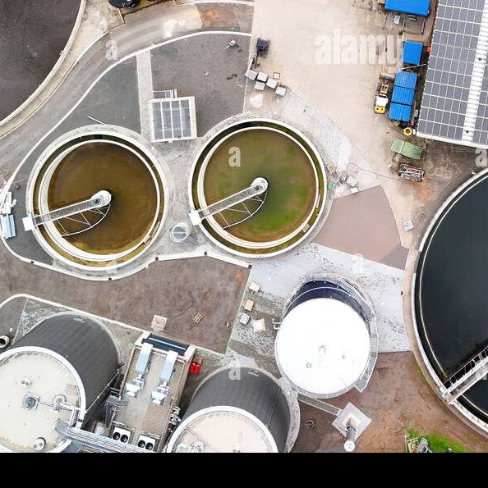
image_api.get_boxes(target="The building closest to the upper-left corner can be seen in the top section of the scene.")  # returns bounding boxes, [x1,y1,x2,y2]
[150,96,198,143]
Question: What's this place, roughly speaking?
industrial area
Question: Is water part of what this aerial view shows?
Yes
